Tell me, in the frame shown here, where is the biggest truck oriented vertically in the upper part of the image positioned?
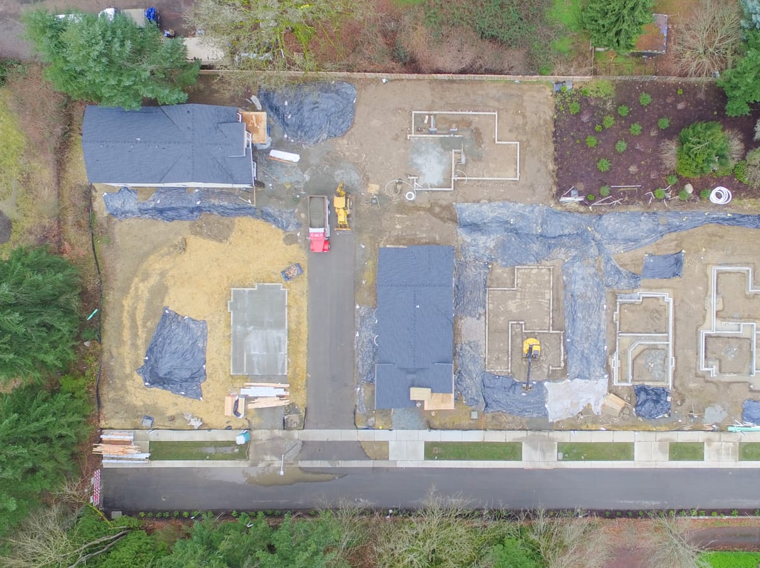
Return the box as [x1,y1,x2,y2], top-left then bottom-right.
[308,195,334,255]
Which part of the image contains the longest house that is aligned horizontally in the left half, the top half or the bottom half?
top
